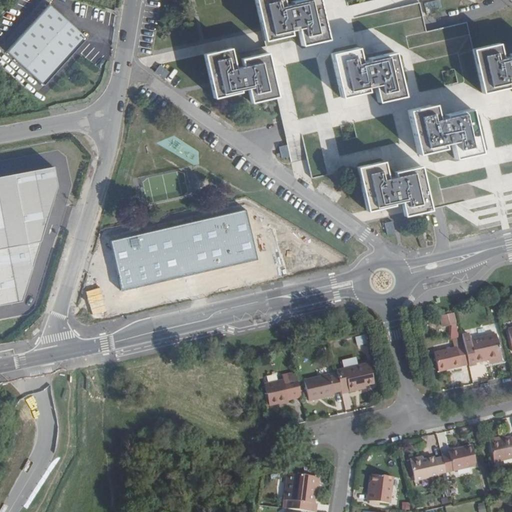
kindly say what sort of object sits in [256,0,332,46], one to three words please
building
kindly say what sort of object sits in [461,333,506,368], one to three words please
house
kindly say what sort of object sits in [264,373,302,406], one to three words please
house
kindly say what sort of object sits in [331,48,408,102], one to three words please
building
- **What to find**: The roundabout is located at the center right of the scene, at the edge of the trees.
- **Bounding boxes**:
[356,254,410,308]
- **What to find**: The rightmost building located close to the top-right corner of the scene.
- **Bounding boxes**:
[472,44,512,94]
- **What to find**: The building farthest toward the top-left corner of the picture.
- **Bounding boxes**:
[9,5,84,84]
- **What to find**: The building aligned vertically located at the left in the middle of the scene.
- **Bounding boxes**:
[0,167,59,306]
